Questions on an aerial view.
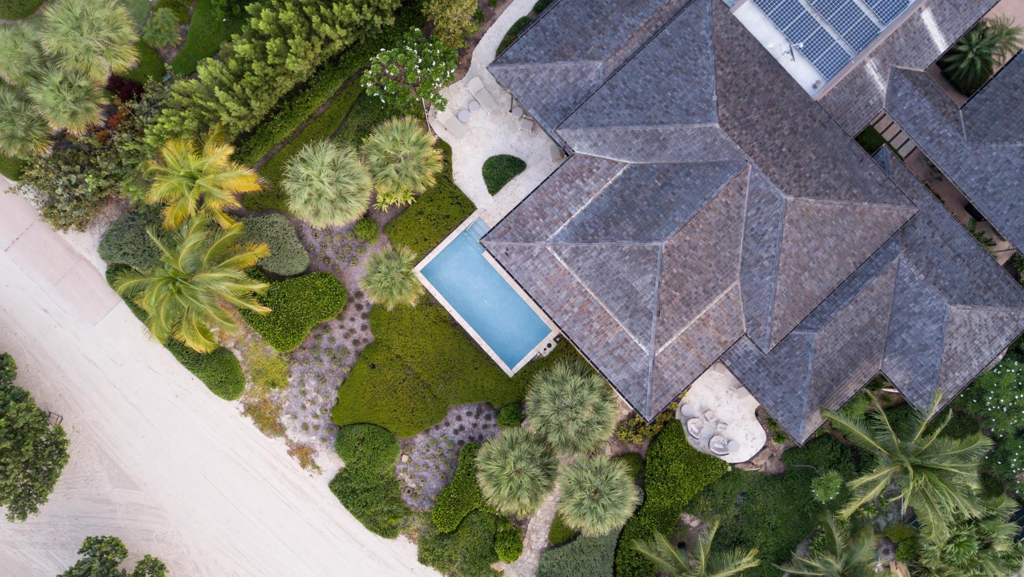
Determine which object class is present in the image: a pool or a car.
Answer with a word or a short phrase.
pool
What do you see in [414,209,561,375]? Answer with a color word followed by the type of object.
blue swimming pool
